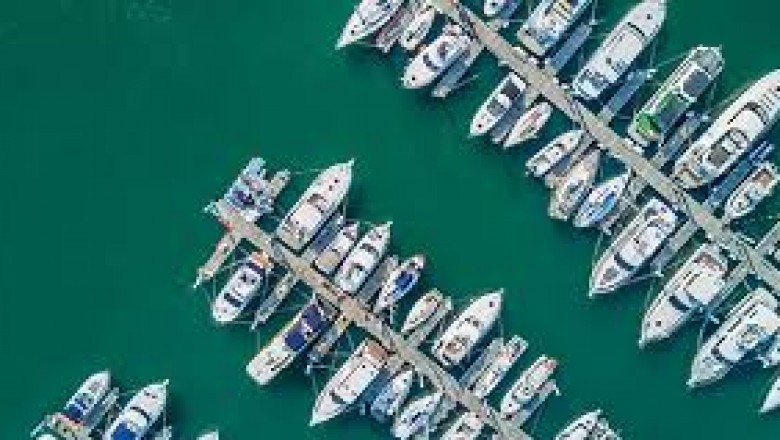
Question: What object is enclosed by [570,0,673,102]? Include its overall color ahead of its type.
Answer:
white boat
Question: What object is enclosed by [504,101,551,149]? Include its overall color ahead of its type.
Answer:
white boat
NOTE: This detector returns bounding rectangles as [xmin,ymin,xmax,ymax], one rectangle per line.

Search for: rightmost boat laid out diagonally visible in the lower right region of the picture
[690,283,780,387]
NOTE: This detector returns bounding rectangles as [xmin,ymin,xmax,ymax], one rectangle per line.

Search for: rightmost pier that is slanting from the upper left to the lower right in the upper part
[422,0,780,293]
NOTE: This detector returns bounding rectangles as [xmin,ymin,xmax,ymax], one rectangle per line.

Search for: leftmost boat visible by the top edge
[335,0,411,47]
